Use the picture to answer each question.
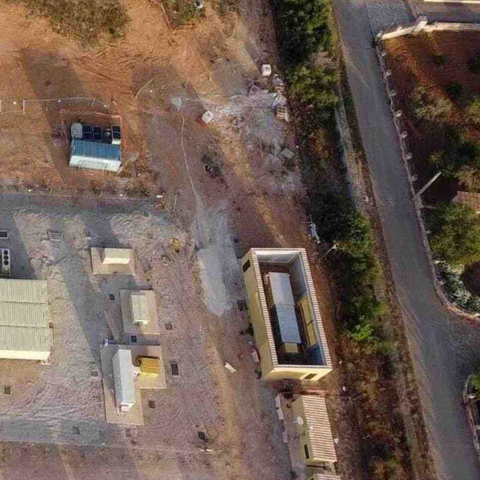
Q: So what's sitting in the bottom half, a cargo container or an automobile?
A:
cargo container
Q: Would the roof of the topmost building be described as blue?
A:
Yes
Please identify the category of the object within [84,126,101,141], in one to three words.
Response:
solar array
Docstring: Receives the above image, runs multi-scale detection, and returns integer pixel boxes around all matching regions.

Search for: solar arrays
[112,126,121,143]
[84,126,101,141]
